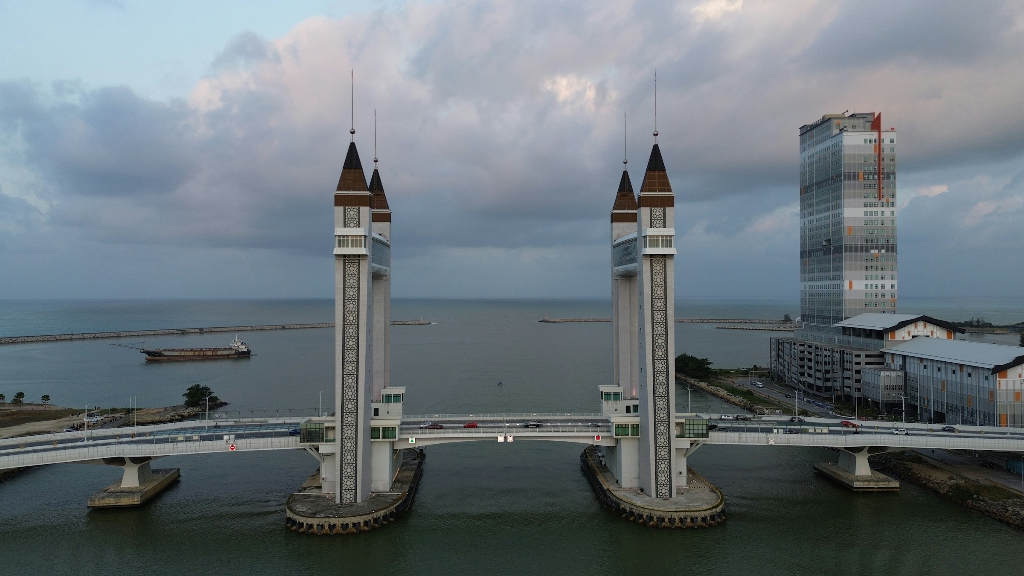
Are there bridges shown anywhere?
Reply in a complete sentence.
Yes, the frame does contain a bridge.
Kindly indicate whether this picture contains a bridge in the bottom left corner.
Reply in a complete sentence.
Yes, a bridge appears in the bottom left corner.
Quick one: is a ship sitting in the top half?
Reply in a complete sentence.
No, in the top half there is no ship.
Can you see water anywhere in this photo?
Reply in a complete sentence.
Yes, some water is visible.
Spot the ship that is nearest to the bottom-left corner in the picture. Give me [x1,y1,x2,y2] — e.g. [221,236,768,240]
[101,336,258,361]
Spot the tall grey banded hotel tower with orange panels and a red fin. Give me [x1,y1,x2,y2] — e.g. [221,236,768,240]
[799,108,898,324]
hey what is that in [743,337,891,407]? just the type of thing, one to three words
building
